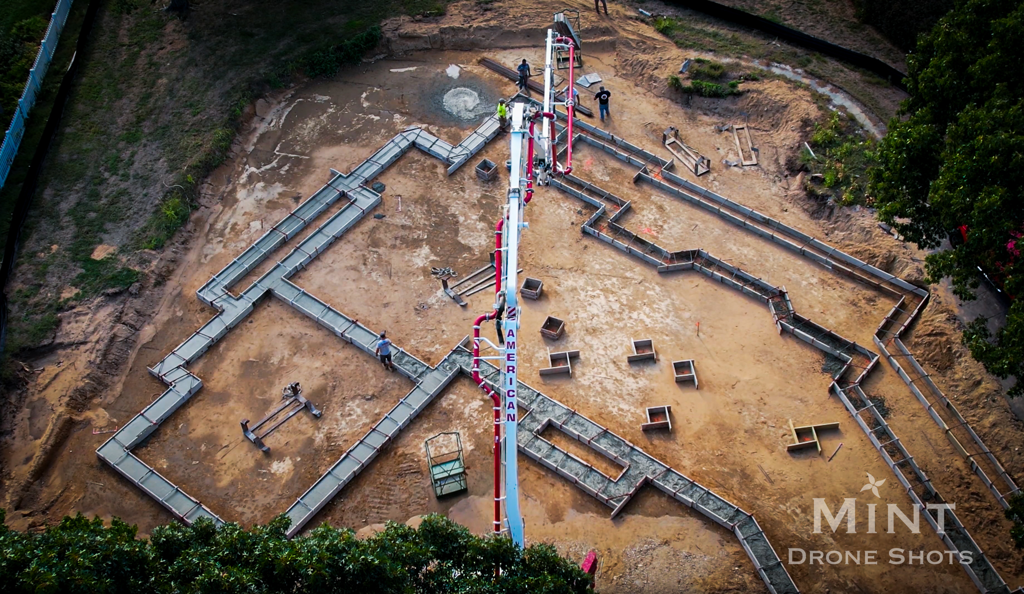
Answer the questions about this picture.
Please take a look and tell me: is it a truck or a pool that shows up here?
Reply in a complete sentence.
Visible in the photo is a truck.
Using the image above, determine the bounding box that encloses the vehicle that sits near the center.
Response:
[472,30,600,591]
